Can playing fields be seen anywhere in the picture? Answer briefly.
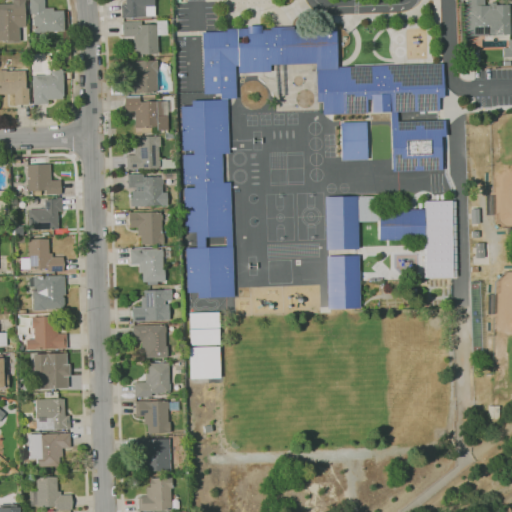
Yes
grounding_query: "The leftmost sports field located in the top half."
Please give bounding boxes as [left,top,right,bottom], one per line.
[372,126,391,161]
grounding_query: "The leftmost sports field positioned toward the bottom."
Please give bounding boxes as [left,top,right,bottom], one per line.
[223,310,448,451]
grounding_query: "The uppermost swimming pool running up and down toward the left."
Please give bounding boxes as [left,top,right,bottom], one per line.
[158,64,172,93]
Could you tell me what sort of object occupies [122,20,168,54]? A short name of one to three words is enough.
house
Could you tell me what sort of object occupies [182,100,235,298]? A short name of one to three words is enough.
building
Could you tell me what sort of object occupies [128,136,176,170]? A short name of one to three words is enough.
house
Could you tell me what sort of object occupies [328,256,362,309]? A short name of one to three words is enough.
building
